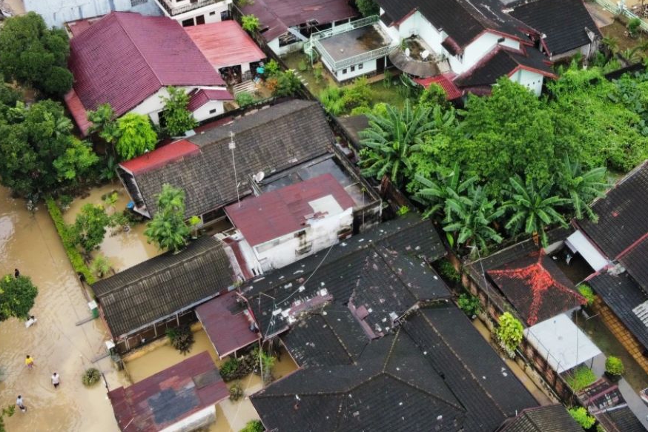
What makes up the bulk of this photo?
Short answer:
buildings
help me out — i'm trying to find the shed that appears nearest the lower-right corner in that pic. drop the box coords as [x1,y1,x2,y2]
[594,403,644,432]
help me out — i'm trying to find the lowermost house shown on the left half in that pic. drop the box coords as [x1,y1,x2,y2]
[109,353,229,432]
